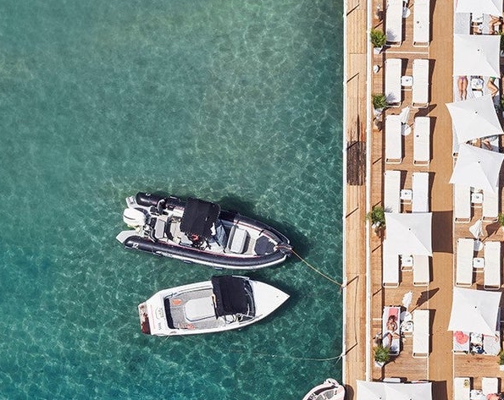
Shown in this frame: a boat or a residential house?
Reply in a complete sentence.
I can see a boat in this picture.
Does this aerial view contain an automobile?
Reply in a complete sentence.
No, there's no automobile here.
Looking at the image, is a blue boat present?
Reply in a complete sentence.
No, the frame has no blue boat in it.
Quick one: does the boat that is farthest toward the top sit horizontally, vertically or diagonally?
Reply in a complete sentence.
What the image shows is the boat that is farthest toward the top lying horizontally.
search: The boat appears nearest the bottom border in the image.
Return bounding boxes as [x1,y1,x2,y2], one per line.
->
[141,271,290,336]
